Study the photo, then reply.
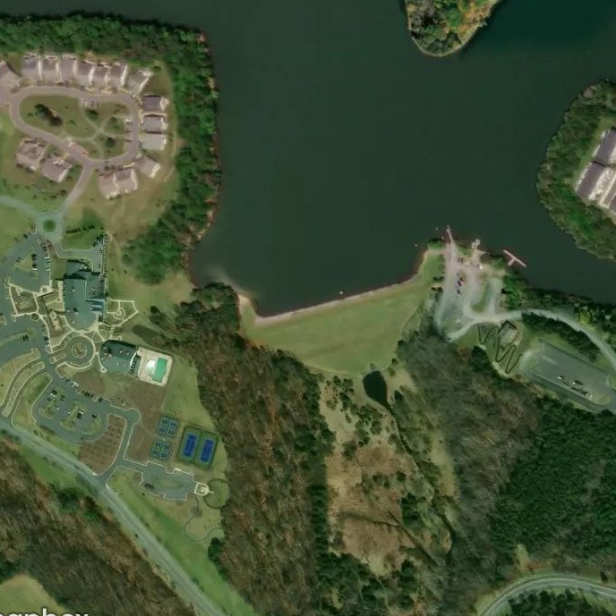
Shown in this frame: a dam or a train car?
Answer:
dam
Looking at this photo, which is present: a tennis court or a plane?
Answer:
tennis court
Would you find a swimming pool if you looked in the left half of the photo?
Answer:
Yes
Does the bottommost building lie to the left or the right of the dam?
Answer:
to the left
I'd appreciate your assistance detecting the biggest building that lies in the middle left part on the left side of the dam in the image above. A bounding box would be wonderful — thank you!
[64,259,106,331]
